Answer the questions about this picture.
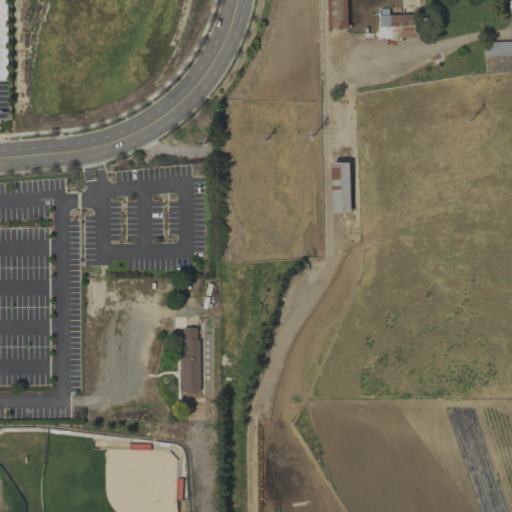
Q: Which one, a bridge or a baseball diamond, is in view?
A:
baseball diamond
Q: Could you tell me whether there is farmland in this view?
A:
Yes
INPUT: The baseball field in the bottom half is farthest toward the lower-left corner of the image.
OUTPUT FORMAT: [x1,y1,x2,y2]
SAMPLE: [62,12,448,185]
[0,432,46,512]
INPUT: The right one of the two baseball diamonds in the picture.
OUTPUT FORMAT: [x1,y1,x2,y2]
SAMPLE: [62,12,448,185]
[44,432,186,512]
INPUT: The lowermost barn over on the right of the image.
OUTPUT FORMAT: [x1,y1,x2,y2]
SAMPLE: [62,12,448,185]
[332,162,352,213]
